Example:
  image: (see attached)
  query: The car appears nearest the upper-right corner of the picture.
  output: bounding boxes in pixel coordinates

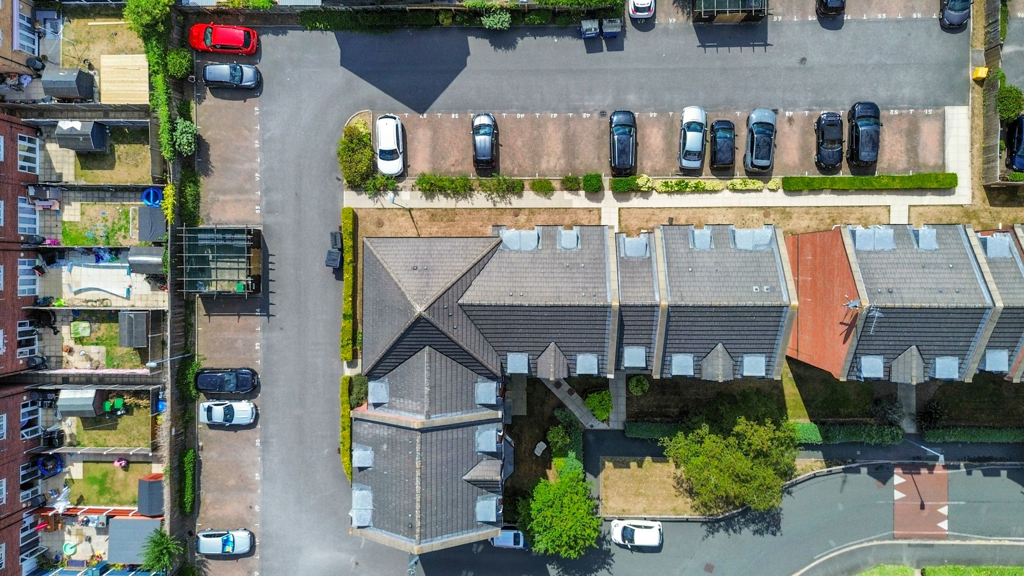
[936,0,974,29]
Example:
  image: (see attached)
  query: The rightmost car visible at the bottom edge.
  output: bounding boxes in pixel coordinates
[611,519,662,549]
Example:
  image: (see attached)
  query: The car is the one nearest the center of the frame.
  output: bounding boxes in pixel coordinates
[469,113,500,170]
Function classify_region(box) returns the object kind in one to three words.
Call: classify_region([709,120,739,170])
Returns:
car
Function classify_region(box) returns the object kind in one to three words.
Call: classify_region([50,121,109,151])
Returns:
shed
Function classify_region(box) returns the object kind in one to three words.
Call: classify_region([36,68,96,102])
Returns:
shed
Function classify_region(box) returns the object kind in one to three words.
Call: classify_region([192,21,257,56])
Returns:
car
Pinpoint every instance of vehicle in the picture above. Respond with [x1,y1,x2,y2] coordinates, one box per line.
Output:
[743,109,779,173]
[192,21,257,56]
[936,0,974,29]
[676,106,710,171]
[199,399,258,428]
[814,113,847,170]
[611,519,662,549]
[483,524,540,557]
[469,113,500,170]
[814,0,845,17]
[203,60,261,90]
[196,367,259,397]
[197,527,254,559]
[845,101,884,168]
[374,115,405,177]
[709,120,739,170]
[628,0,655,19]
[1000,113,1024,172]
[608,110,640,176]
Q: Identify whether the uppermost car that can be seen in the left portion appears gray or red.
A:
red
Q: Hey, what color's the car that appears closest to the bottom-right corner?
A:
white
